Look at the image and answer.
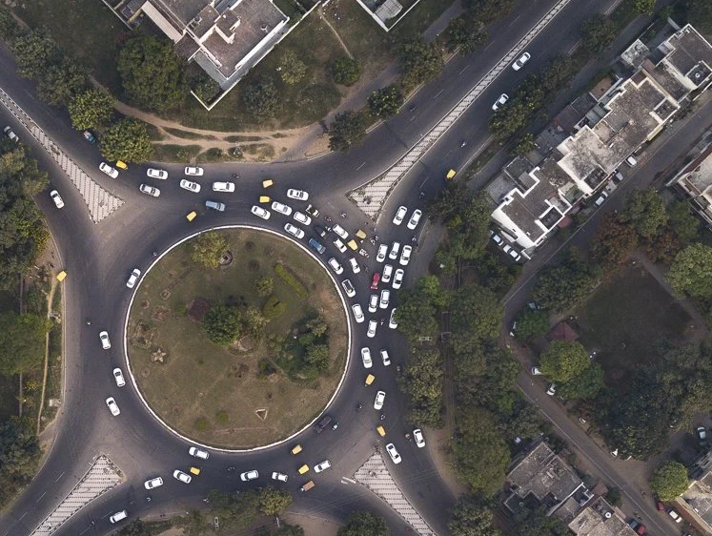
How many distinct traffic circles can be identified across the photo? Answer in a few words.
one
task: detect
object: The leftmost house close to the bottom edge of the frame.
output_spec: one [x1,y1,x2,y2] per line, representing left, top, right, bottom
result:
[503,440,594,521]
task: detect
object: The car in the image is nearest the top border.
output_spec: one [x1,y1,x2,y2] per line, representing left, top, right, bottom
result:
[512,52,531,72]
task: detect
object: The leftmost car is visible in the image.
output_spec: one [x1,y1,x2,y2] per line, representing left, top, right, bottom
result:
[3,125,21,145]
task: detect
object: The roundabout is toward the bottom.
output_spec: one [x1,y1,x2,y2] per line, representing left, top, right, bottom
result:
[124,224,353,454]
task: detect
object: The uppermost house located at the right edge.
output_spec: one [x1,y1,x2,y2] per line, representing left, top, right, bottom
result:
[615,25,712,98]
